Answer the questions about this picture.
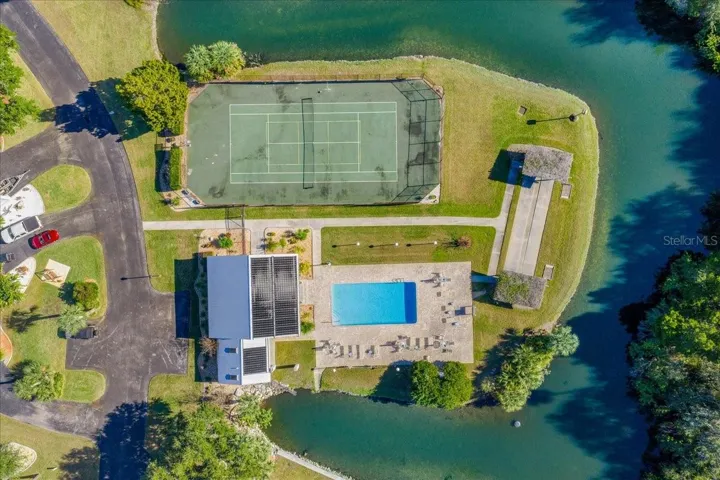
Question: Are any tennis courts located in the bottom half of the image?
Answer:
No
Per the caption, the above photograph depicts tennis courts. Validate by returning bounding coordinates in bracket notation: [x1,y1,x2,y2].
[186,79,442,207]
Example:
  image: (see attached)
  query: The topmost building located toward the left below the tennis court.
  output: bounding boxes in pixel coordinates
[207,254,300,339]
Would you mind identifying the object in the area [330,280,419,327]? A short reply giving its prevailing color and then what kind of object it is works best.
blue swimming pool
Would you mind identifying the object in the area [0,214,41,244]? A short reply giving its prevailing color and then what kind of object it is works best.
white truck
